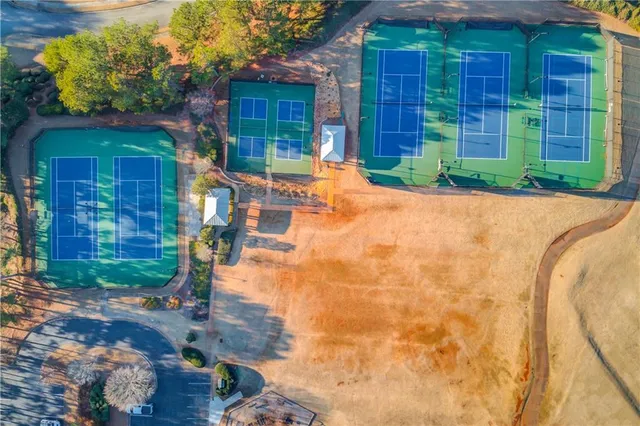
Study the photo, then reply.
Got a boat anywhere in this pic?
No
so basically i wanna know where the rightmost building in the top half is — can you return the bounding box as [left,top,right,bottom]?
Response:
[319,124,346,164]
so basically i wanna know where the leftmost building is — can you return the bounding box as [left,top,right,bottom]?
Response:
[203,189,232,226]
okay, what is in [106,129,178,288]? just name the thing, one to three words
tennis court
